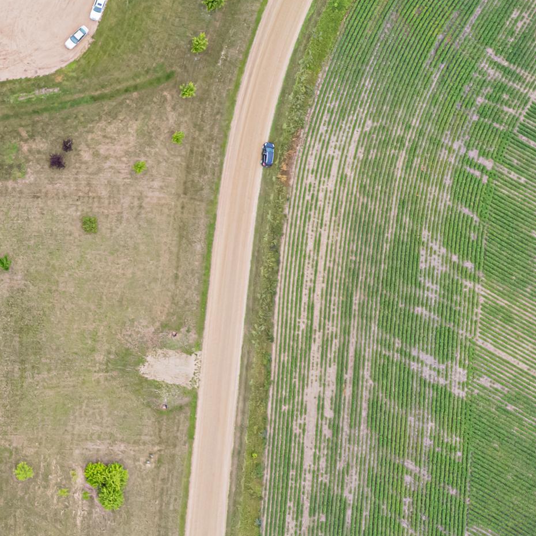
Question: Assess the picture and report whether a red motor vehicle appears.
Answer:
No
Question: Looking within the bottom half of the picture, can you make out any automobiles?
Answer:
No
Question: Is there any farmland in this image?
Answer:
Yes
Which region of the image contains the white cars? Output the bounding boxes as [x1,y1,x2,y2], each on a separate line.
[65,24,90,50]
[90,0,105,21]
